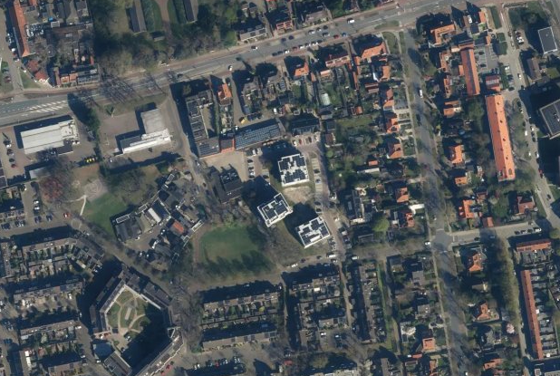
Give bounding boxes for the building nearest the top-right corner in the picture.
[537,27,557,57]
